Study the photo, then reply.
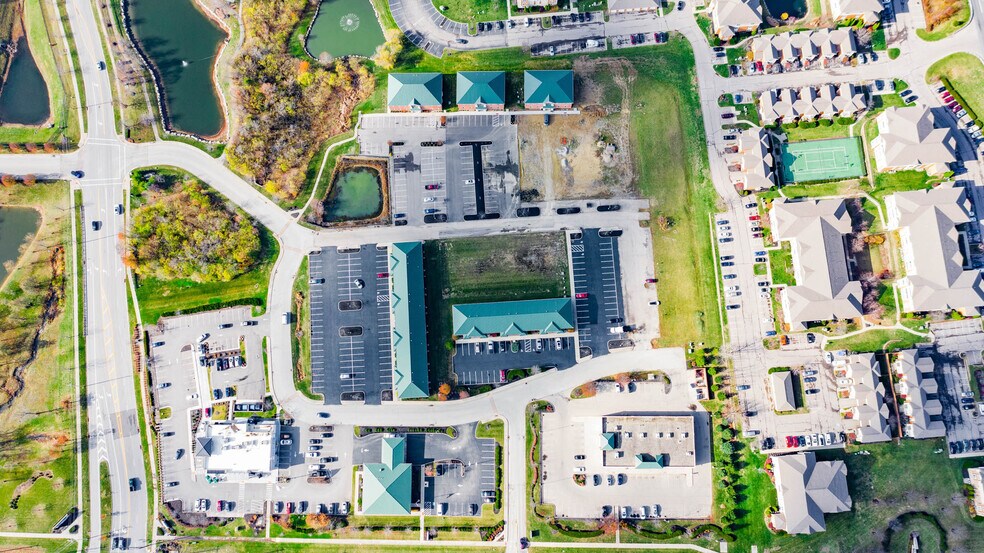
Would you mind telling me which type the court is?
tennis court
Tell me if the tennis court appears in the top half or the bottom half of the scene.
top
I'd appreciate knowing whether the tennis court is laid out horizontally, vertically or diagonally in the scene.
horizontally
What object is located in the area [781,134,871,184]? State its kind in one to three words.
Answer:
tennis court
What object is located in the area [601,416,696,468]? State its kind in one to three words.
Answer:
building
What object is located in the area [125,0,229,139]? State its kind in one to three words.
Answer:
pond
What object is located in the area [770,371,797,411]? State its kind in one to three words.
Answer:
building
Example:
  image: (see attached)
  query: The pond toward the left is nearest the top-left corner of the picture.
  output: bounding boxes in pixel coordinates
[0,37,50,125]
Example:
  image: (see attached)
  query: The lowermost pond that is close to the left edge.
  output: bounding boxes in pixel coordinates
[0,208,41,279]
